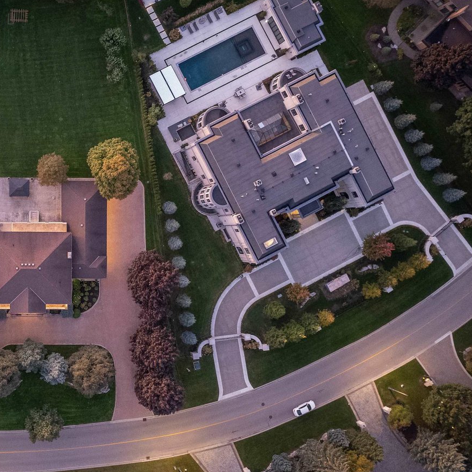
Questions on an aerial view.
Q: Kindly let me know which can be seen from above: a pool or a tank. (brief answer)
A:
pool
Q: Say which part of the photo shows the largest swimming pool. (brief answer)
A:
top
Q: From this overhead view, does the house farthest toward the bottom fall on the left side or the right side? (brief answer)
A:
left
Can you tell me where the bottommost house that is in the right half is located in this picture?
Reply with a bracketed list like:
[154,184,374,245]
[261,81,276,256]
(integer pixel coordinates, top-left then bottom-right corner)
[174,64,394,264]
